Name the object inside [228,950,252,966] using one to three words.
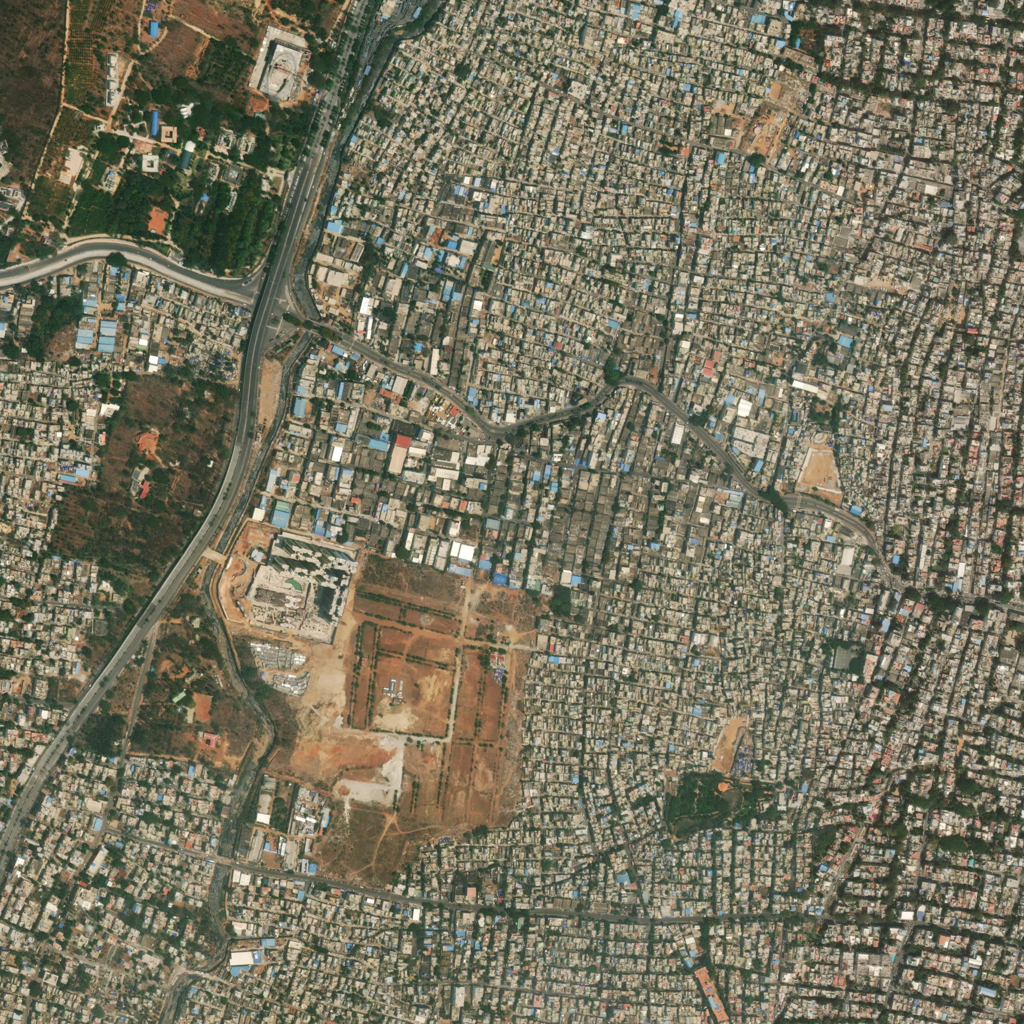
shed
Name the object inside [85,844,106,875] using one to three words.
building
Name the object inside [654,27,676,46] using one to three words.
building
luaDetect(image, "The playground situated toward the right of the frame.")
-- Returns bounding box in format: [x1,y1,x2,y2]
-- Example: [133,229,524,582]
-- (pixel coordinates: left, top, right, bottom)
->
[795,433,844,508]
